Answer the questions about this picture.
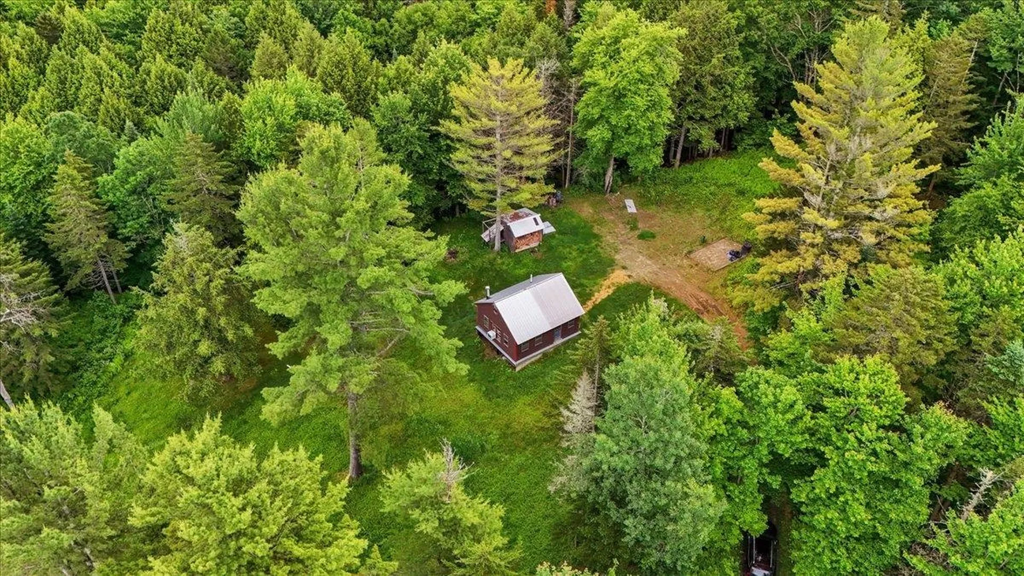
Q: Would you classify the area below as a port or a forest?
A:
forest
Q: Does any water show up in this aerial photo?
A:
No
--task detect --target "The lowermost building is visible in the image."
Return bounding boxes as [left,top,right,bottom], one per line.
[474,272,585,368]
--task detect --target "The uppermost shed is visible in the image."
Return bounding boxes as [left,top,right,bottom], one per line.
[499,208,545,252]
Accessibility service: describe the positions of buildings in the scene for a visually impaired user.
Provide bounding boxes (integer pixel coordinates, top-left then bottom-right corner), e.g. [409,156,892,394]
[474,272,585,368]
[499,208,545,252]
